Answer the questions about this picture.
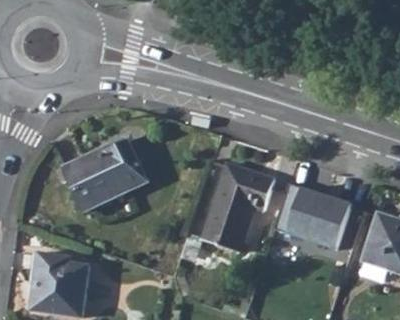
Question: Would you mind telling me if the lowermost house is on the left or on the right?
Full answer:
The lowermost house appears in the left half of the scene.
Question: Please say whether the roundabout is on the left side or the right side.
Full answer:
The roundabout is on the left side of the image.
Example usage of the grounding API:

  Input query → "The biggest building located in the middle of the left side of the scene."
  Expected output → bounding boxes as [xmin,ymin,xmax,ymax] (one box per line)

[62,142,149,212]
